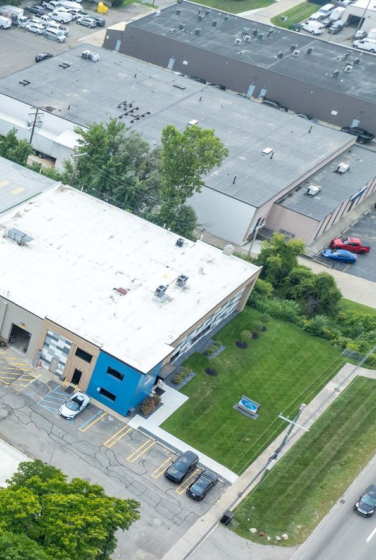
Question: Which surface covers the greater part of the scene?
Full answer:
The largest share of the image is taken up by buildings.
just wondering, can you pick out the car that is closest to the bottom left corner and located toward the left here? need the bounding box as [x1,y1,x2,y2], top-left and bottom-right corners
[57,391,91,420]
